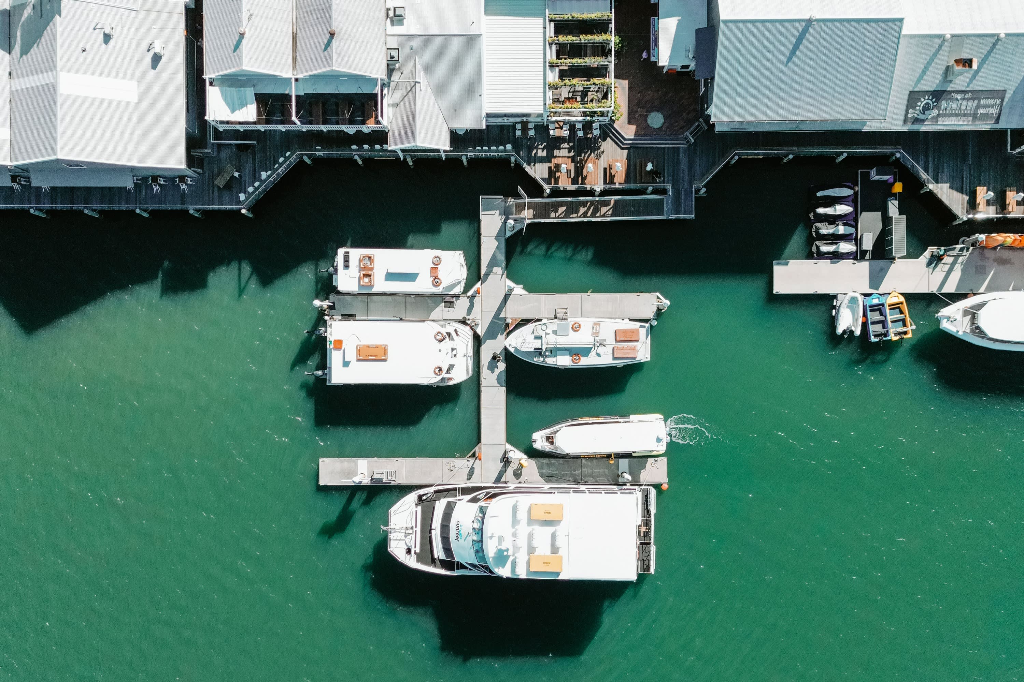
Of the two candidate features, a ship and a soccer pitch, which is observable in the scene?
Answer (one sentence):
Of the two, only a ship appears.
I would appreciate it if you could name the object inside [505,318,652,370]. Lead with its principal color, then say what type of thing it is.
white boat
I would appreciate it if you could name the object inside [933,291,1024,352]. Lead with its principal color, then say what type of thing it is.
white boat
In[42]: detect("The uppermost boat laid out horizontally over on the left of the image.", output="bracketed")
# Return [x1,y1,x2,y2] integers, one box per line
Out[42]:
[318,248,467,295]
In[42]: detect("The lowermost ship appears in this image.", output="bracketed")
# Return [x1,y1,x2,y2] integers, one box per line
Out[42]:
[381,482,656,581]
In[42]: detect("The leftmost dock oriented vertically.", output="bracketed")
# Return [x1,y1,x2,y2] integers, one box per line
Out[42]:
[480,196,524,484]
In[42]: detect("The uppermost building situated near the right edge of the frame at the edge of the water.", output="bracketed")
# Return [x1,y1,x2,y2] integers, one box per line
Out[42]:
[699,0,1024,132]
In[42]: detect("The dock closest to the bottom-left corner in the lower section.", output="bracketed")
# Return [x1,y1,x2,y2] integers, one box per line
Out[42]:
[319,445,480,484]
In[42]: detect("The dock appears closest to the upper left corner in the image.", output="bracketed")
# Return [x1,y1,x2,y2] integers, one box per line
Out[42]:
[323,283,480,335]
